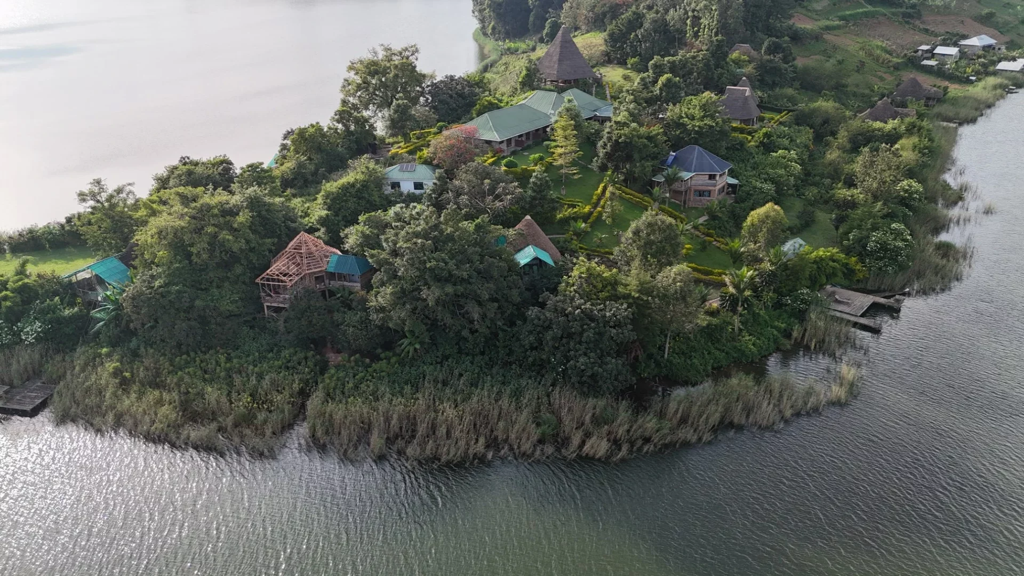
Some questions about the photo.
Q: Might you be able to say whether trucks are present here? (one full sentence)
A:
No, no truck can be seen from above.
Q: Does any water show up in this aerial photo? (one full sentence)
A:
Yes, some water is visible.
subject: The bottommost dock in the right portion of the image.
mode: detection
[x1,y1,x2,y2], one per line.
[823,288,906,334]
